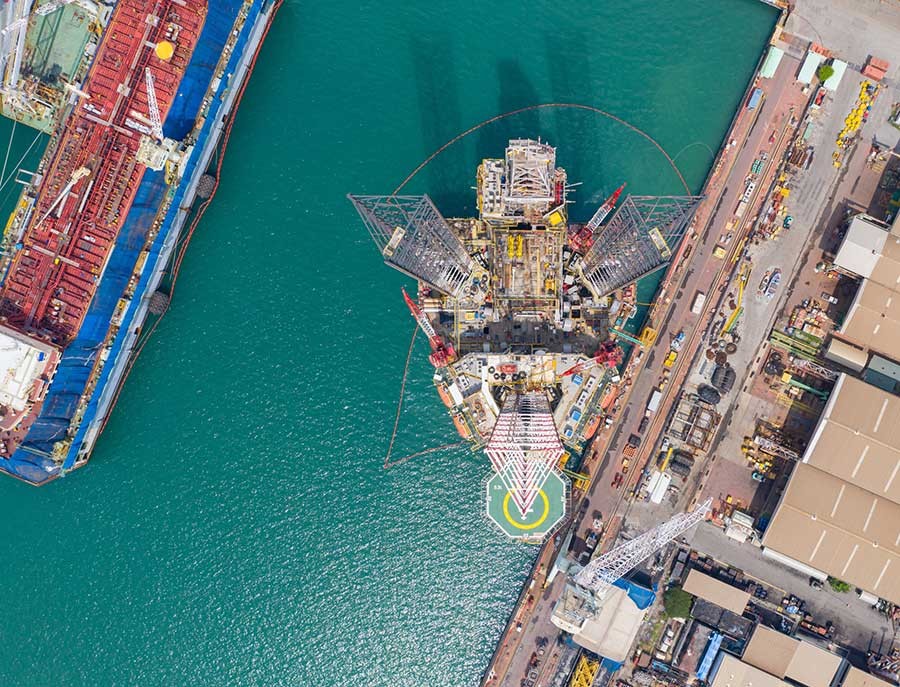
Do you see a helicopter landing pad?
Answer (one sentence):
Yes, a helicopter landing pad appears in the view.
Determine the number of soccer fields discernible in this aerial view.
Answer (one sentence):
The photo contains no soccer fields.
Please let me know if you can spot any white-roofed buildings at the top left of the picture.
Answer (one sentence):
No, I see no white-roofed building at the top left of the picture.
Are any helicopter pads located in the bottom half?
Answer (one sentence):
Yes, I can see a helicopter pad in the bottom half.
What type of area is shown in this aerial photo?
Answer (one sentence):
This image shows a port.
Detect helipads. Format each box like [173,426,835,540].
[481,452,571,544]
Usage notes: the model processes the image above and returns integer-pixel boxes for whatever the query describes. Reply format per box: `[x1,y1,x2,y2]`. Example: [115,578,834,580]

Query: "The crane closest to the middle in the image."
[402,288,458,367]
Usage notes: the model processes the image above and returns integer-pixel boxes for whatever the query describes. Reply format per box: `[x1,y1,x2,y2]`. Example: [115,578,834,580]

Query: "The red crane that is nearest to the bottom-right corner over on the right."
[560,340,628,377]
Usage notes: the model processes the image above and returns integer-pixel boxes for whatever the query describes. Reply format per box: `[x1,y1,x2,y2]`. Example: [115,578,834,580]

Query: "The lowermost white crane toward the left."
[36,164,98,227]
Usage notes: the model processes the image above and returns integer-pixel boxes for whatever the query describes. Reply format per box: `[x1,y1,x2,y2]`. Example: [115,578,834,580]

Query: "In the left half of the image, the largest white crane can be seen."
[138,69,195,189]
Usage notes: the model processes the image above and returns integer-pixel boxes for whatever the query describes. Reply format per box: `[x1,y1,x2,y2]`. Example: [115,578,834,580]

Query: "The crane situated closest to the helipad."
[541,501,710,640]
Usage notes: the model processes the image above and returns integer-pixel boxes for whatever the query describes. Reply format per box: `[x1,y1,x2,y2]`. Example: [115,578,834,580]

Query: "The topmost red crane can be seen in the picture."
[568,182,628,255]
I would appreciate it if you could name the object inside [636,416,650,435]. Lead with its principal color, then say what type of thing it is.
gray vehicle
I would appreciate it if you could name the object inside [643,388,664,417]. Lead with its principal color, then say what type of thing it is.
white truck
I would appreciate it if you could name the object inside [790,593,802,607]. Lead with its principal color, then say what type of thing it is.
gray vehicle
